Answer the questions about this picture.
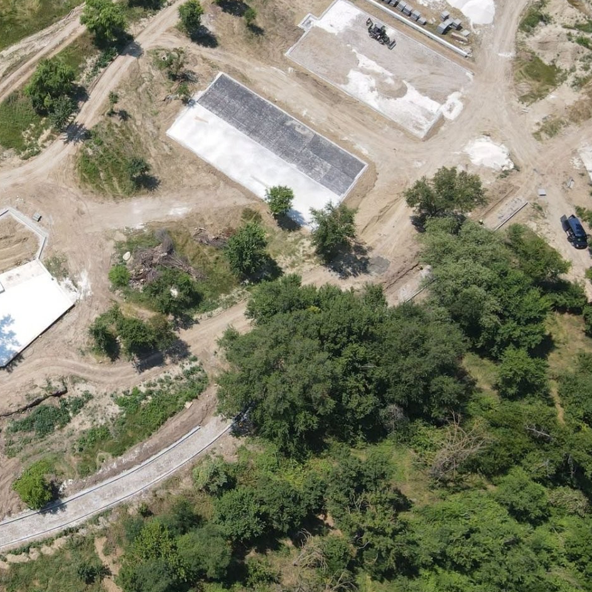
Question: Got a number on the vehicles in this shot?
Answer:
2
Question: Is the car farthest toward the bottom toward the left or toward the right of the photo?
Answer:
right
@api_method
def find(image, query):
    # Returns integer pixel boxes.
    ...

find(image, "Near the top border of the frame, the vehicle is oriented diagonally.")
[367,11,401,51]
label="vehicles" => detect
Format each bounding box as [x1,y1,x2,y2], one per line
[563,208,588,247]
[367,11,401,51]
